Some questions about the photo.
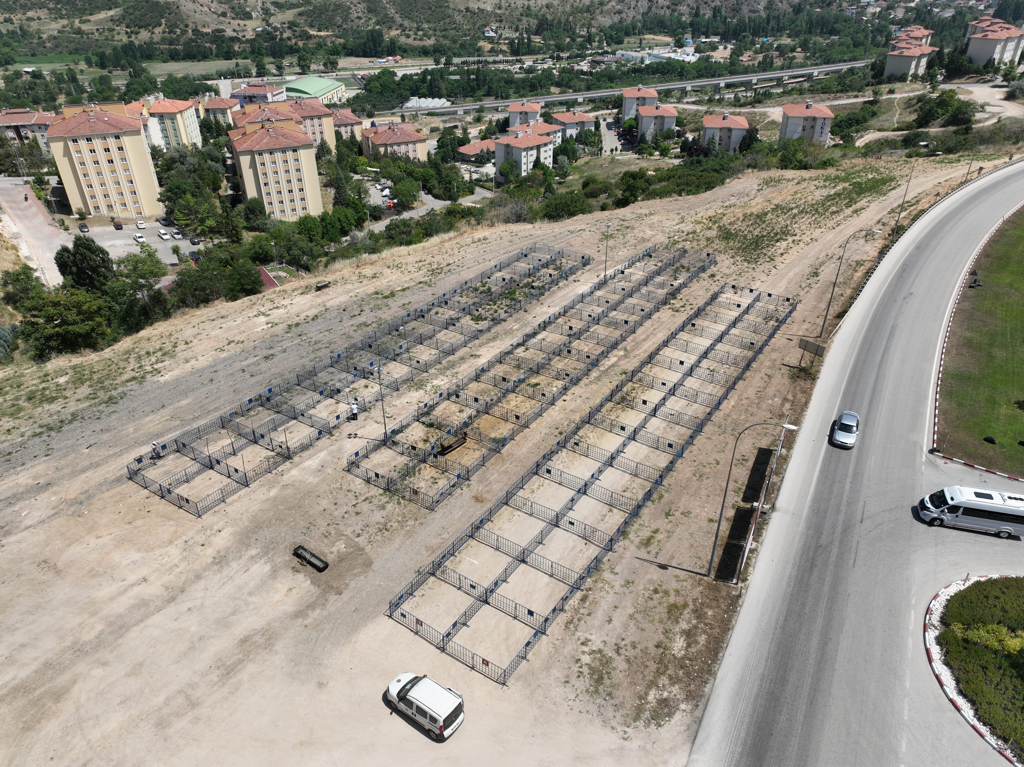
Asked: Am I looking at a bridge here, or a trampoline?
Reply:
bridge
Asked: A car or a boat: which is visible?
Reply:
car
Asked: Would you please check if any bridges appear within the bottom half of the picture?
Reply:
No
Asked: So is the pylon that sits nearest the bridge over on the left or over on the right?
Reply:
left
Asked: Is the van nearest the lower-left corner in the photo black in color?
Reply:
No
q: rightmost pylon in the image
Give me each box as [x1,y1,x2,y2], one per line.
[260,239,282,285]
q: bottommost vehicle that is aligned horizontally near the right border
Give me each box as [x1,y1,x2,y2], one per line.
[919,483,1024,538]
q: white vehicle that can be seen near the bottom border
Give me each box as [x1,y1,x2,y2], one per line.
[385,671,469,747]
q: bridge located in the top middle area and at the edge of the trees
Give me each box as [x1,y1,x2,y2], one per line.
[349,54,882,120]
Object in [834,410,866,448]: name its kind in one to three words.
car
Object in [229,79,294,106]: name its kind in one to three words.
building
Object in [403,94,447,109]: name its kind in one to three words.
greenhouse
